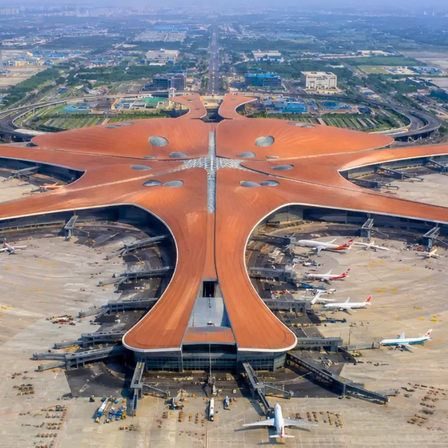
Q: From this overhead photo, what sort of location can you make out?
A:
airport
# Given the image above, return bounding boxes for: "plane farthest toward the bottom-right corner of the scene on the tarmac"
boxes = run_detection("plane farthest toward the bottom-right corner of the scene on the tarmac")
[381,328,431,352]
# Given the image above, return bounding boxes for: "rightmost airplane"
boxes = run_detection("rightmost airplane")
[418,244,448,262]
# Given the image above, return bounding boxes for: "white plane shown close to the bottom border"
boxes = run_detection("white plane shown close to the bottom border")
[244,399,317,440]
